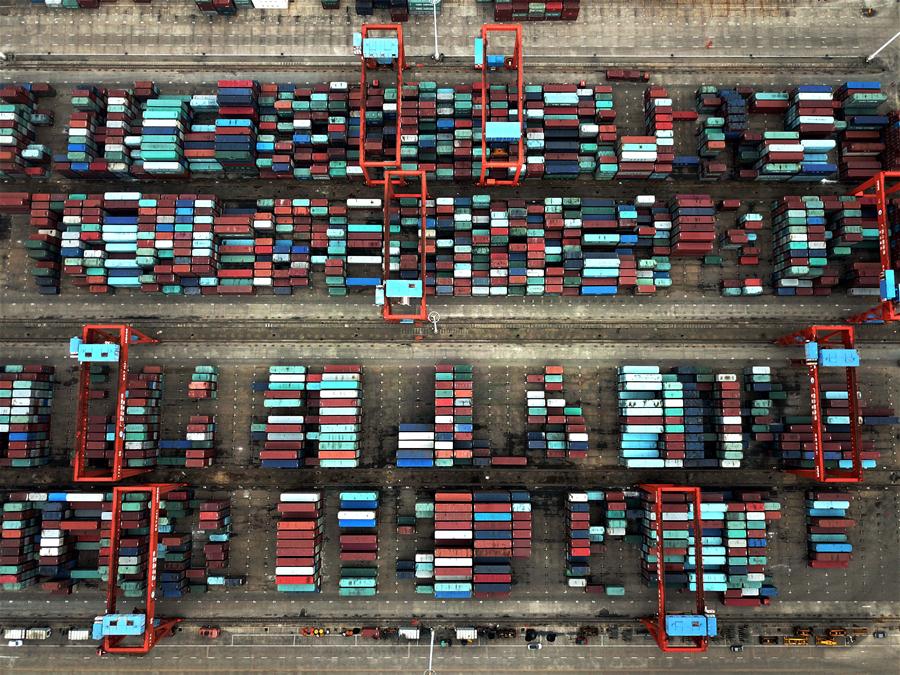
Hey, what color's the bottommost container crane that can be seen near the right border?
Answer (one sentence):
The bottommost container crane that can be seen near the right border looks red in the image.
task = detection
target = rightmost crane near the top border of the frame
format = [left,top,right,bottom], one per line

[472,28,526,183]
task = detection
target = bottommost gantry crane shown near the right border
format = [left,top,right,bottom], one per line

[773,327,864,480]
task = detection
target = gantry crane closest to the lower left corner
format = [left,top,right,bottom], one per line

[90,481,188,648]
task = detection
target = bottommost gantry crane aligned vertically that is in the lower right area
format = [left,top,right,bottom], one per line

[629,481,718,648]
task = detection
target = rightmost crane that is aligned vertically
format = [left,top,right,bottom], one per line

[838,173,900,328]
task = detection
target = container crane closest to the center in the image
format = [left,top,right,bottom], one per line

[375,172,434,328]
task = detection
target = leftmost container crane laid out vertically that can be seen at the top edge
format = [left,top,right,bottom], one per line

[352,28,413,183]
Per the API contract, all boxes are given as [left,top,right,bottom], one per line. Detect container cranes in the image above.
[773,327,864,480]
[352,28,413,183]
[472,28,526,183]
[90,481,188,648]
[629,481,718,648]
[838,173,900,328]
[375,172,434,328]
[65,327,163,480]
